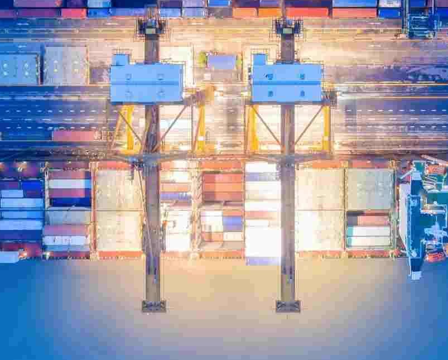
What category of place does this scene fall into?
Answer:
port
